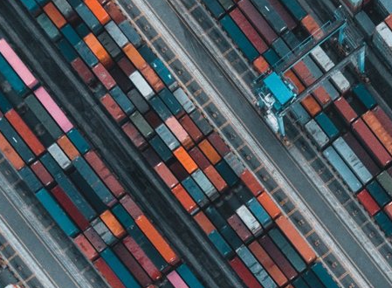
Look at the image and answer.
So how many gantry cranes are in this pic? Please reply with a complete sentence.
Altogether the scene contains 1 gantry crane.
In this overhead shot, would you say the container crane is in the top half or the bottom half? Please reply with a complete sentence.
Seen from above, the container crane lies in the top half of the view.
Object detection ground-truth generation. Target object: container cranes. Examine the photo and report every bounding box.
[240,17,371,146]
